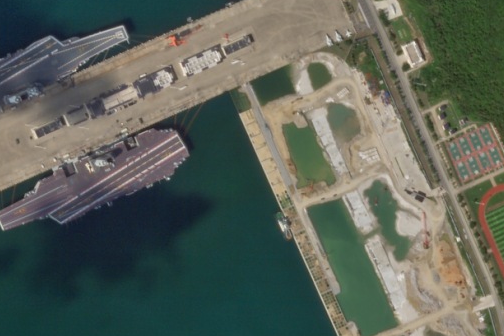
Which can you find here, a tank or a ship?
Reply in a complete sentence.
Of the two, only a ship appears.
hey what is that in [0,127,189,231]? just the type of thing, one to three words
ship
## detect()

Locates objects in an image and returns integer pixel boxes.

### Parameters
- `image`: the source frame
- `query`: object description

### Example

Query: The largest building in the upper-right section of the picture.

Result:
[403,41,424,66]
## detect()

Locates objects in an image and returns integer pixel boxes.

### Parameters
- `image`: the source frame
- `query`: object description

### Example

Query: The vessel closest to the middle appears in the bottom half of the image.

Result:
[275,211,292,240]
